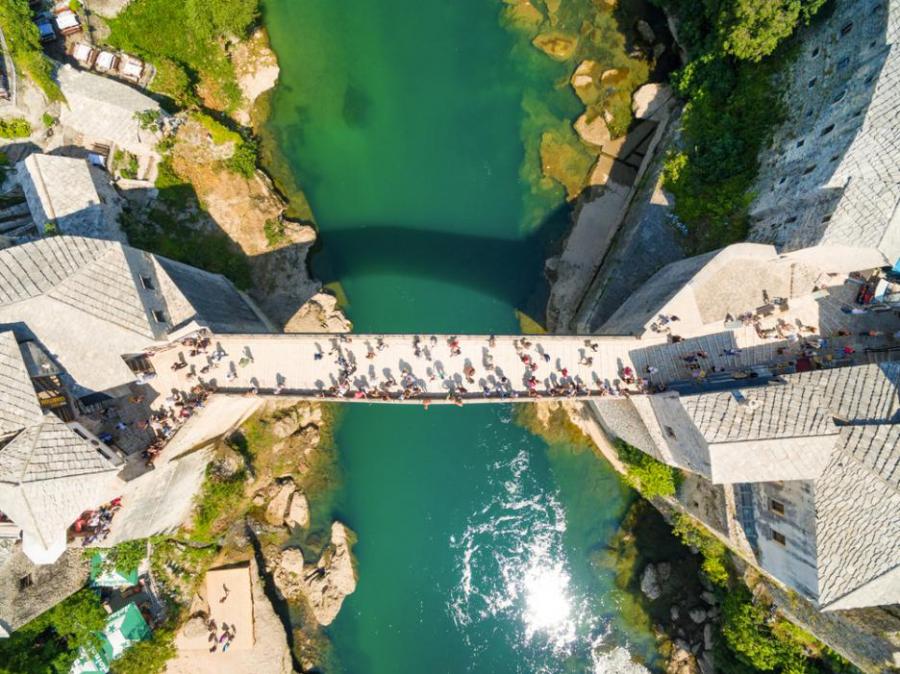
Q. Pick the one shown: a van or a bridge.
bridge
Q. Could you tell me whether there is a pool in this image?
No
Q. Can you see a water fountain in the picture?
No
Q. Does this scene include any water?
Yes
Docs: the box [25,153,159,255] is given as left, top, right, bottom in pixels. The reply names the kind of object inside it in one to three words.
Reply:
house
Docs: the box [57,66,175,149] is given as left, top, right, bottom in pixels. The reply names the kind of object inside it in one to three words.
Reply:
building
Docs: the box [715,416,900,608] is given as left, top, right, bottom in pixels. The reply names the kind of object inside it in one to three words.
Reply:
house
